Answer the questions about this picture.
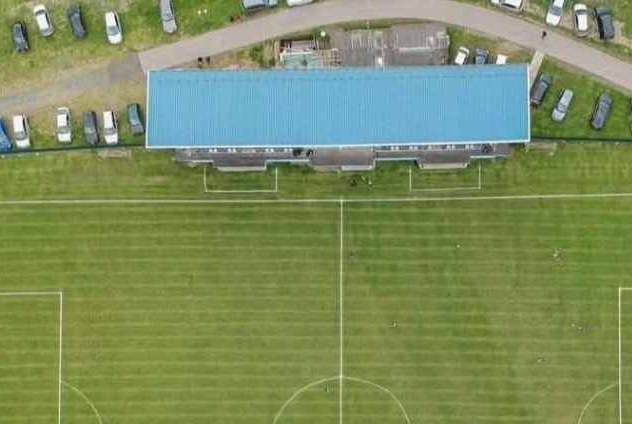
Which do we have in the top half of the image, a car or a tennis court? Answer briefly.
car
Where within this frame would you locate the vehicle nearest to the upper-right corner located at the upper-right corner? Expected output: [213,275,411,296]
[594,5,615,41]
